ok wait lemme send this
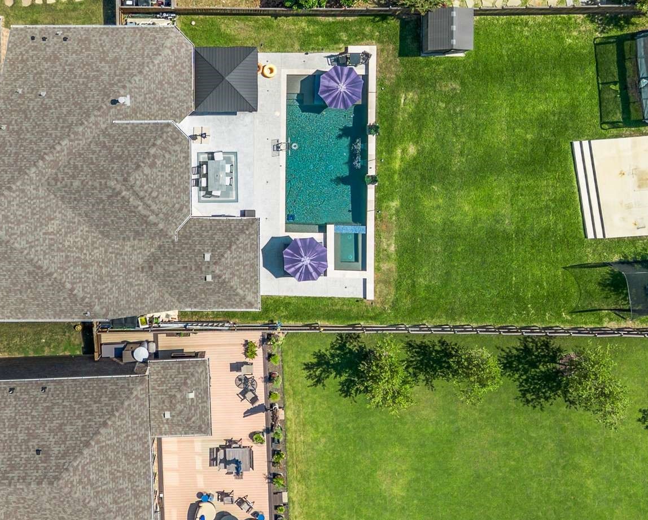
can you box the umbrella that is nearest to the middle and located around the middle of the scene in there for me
[282,236,327,282]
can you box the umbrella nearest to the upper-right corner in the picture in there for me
[317,65,364,111]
